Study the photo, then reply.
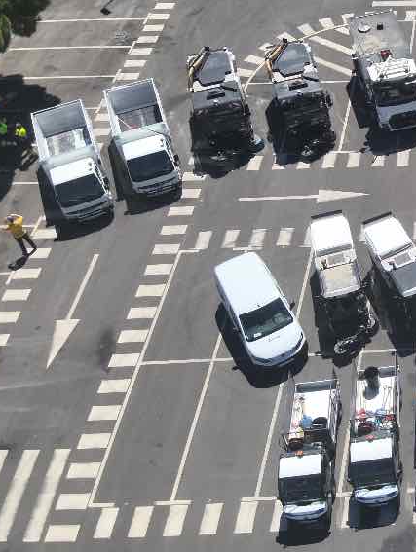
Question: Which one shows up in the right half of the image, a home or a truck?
truck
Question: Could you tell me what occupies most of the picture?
paved ground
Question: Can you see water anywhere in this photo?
No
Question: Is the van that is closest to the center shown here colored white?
Yes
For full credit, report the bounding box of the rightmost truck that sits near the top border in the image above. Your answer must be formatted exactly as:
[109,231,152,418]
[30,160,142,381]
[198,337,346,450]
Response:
[351,8,416,131]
